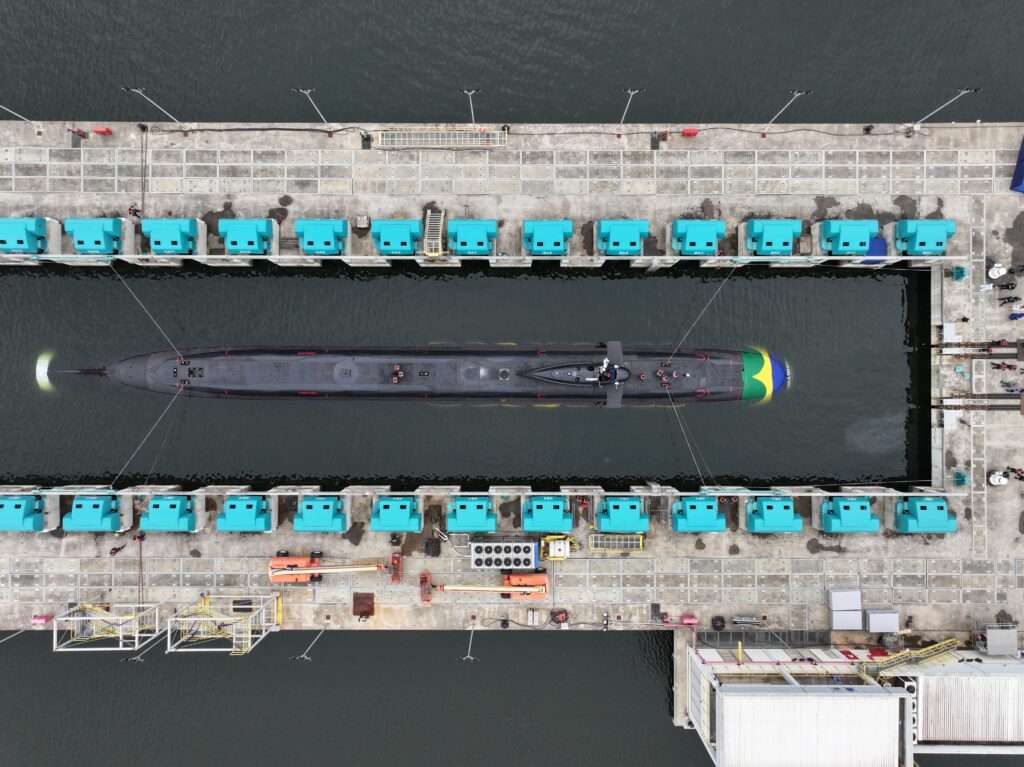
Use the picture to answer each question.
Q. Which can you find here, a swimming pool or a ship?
ship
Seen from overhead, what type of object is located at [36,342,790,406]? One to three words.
ship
